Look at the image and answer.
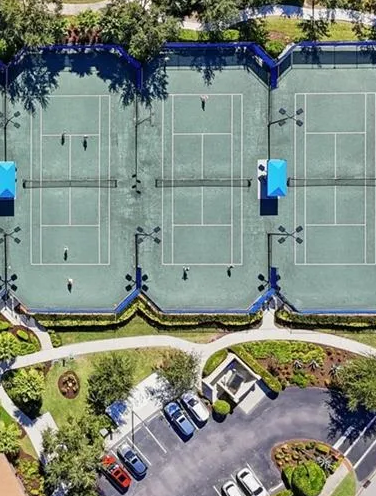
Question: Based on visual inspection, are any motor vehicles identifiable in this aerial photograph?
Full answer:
Yes, I can see a motor vehicle in this picture.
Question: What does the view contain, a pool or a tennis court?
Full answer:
Of the two, only a tennis court appears.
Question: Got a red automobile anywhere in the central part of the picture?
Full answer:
No, looking in the central part of the picture, there is no red automobile.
